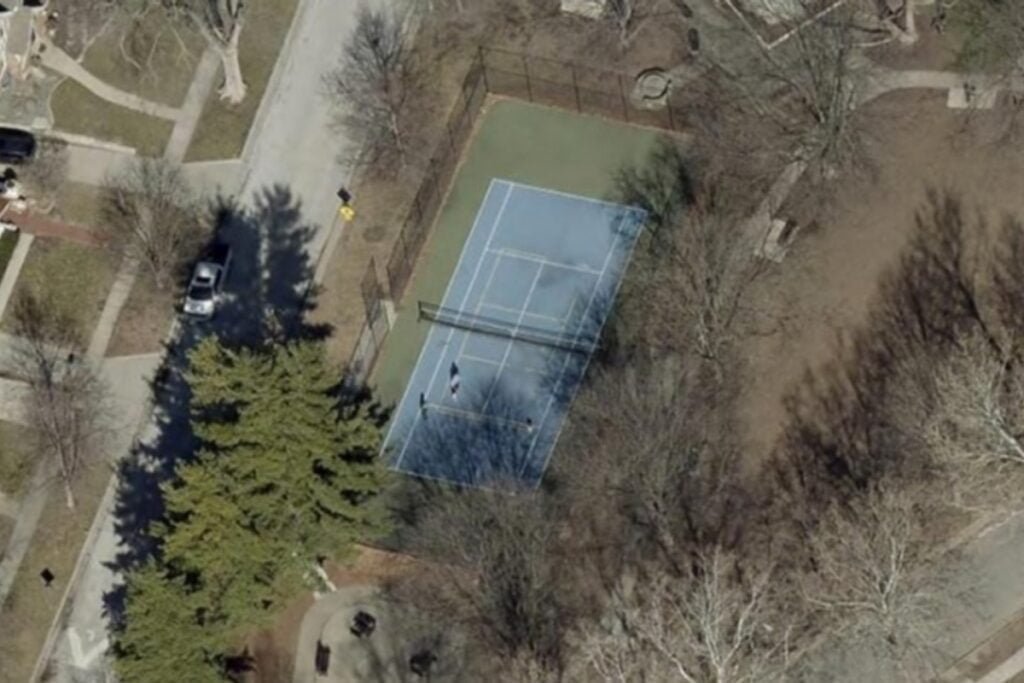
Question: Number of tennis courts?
one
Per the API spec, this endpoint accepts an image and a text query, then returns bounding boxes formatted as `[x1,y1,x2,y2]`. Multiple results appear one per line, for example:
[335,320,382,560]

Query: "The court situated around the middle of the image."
[328,102,709,570]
